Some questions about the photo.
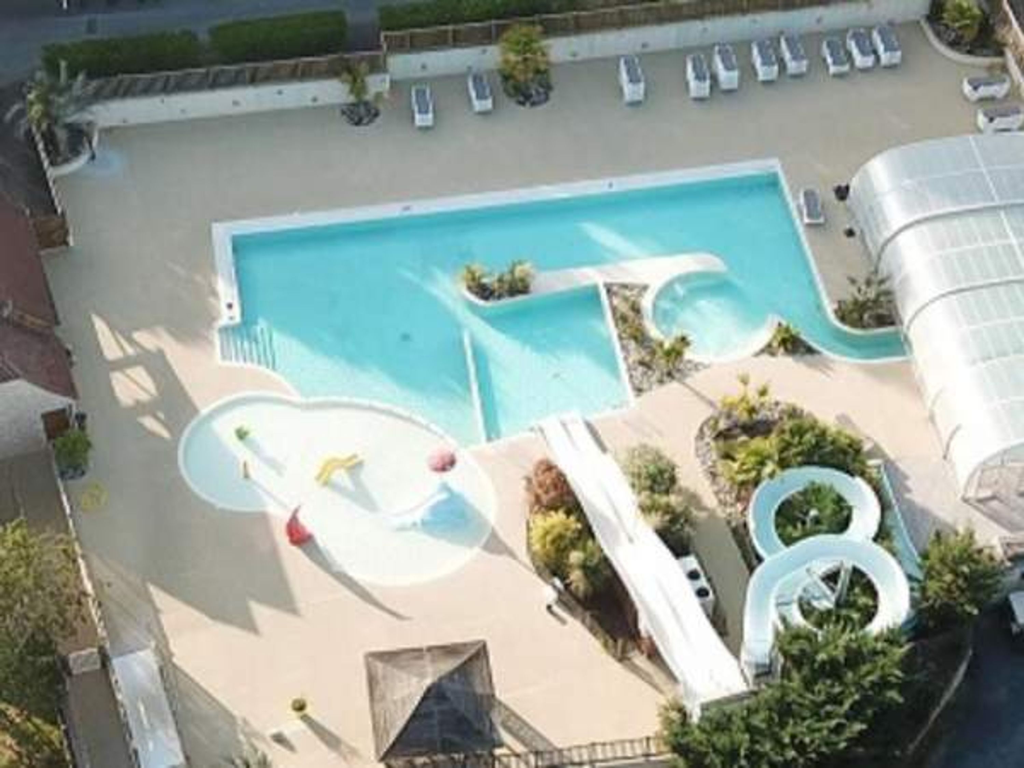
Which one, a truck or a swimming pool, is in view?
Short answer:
swimming pool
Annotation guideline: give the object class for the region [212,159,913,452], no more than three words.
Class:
swimming pool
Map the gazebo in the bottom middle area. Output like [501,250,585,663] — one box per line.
[364,640,504,768]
